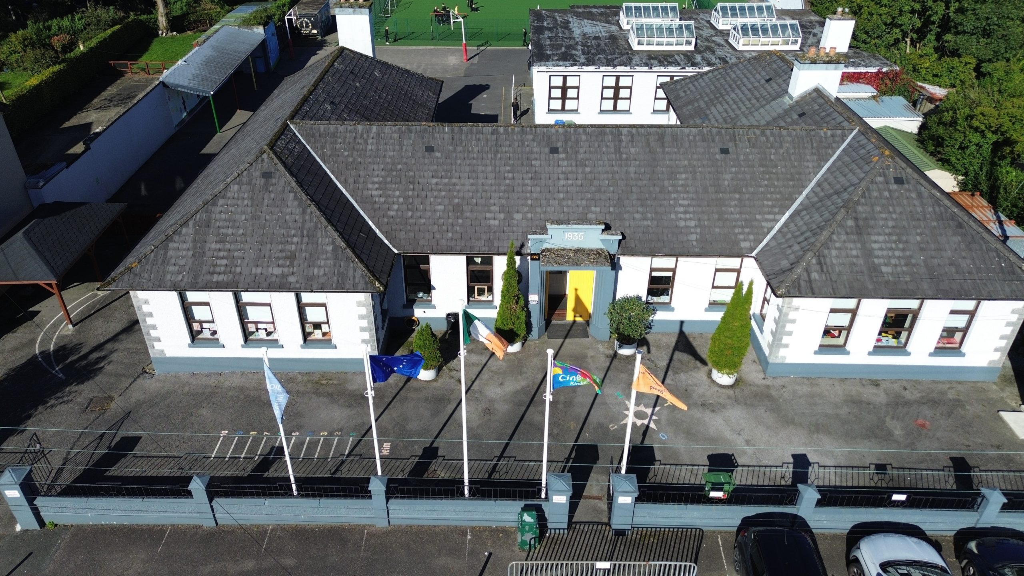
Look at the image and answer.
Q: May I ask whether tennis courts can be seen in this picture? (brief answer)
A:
No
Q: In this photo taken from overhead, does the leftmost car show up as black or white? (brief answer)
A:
black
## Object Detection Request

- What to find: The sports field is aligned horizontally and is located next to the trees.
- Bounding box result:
[336,0,958,51]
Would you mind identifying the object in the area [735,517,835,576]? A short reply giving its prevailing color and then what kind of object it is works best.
black car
